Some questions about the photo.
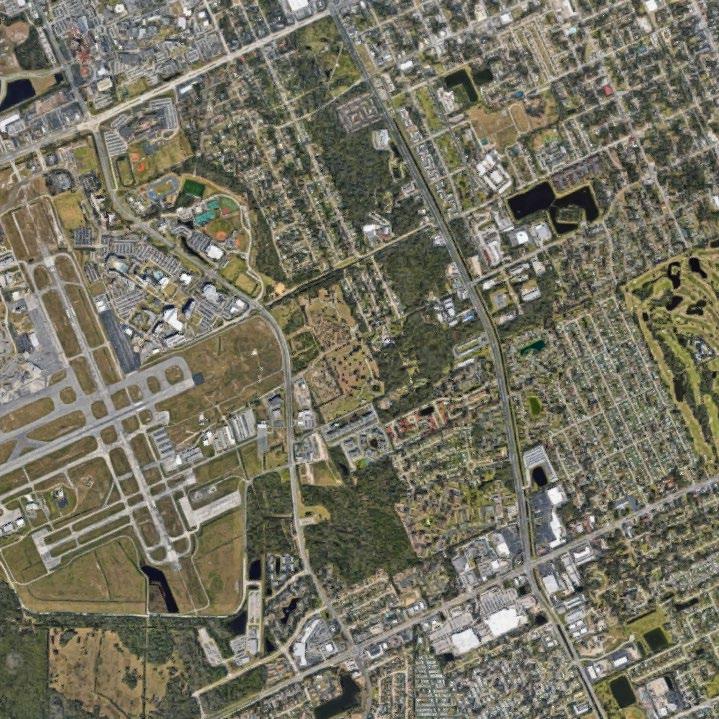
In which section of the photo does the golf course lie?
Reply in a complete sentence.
You can find the golf course in the right area of the picture.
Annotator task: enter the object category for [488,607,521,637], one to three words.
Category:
building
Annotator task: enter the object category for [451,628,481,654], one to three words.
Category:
building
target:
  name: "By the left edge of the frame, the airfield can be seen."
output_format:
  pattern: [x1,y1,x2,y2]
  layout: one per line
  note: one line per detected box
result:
[0,196,286,617]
